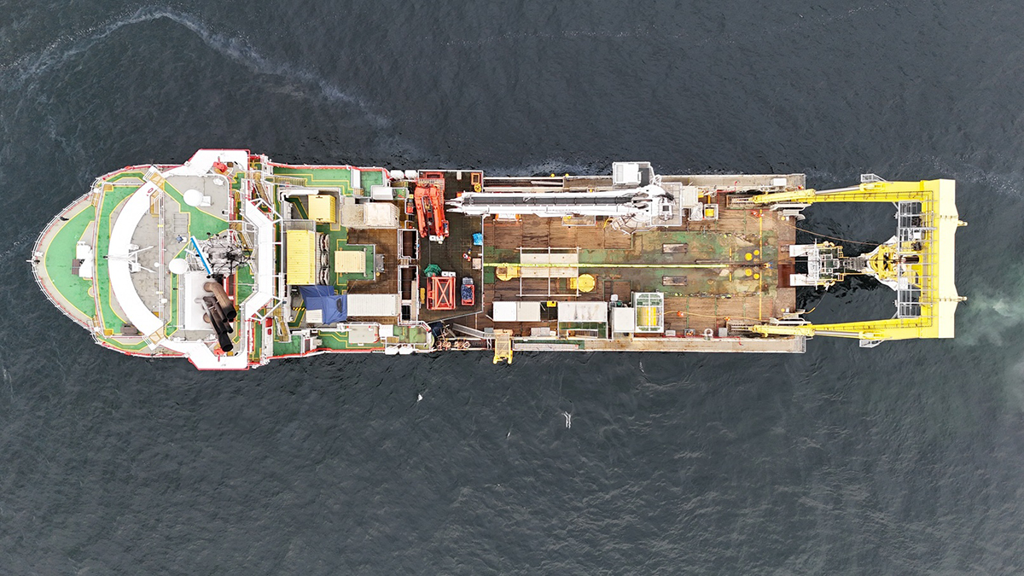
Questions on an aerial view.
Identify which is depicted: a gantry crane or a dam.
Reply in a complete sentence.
Of the two, only a gantry crane appears.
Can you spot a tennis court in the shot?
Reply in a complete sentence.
No, I can't see a single tennis court in this photo.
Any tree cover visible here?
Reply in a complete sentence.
No, the picture contains no tree cover.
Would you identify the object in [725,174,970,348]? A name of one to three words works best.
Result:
container crane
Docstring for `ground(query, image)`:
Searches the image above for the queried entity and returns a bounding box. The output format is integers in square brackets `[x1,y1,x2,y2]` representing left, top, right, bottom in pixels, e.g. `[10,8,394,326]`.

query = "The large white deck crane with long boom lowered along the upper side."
[446,182,683,238]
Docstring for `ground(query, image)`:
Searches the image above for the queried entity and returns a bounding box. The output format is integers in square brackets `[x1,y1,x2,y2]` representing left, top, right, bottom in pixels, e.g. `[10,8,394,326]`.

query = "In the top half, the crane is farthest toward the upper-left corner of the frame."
[415,172,449,279]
